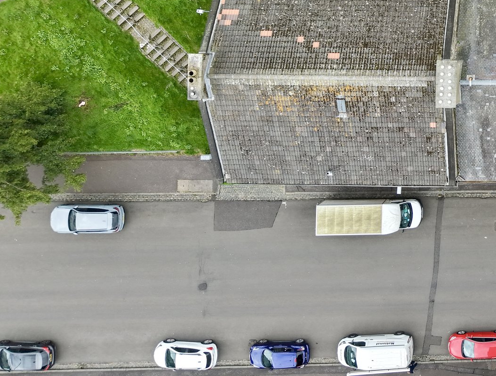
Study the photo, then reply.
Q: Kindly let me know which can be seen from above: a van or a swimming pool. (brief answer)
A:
van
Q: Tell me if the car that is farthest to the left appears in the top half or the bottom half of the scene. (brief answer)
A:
bottom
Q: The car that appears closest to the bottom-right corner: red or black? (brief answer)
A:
red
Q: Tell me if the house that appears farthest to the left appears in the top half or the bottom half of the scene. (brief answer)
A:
top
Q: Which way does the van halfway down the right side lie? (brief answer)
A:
horizontally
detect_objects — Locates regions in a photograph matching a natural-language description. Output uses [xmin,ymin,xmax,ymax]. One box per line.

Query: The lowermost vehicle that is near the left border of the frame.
[0,340,61,376]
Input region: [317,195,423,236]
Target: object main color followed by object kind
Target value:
white van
